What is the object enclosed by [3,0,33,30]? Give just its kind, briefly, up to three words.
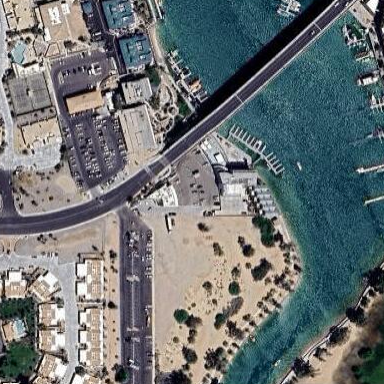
building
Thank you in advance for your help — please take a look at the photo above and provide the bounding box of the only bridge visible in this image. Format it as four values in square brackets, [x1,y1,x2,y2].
[152,0,357,178]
